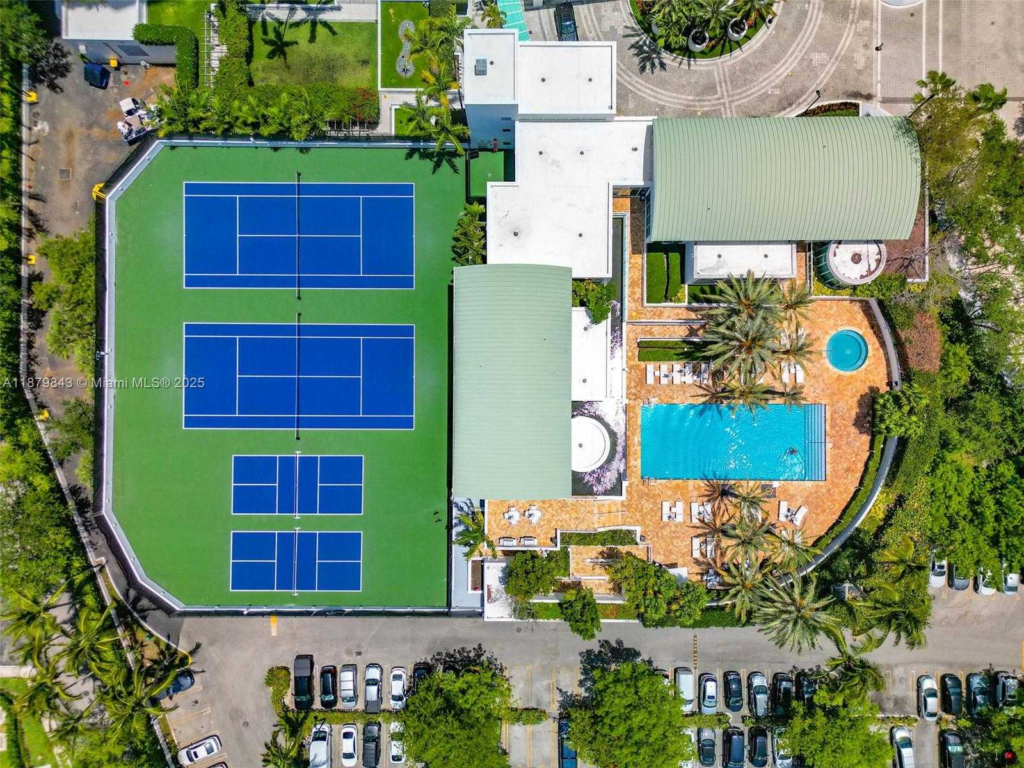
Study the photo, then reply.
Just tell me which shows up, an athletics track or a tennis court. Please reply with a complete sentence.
There is a tennis court in the scene.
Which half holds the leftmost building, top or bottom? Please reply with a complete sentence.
The leftmost building sits in the top half of the picture.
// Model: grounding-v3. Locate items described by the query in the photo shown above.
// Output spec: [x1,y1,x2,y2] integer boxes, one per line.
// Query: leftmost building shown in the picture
[62,0,174,65]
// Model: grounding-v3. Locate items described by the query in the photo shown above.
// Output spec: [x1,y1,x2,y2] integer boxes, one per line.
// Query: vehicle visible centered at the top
[557,0,580,41]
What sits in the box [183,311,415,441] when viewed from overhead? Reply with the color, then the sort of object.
blue tennis court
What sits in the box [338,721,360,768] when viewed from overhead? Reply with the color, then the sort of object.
white car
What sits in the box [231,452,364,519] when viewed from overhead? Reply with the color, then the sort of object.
blue sports court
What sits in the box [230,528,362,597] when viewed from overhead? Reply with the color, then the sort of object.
blue sports court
